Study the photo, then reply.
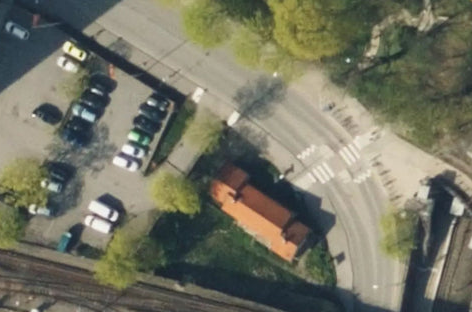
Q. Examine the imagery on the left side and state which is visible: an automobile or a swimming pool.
automobile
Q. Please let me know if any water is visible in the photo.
No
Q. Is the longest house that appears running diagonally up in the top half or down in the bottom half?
bottom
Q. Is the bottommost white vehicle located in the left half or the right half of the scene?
left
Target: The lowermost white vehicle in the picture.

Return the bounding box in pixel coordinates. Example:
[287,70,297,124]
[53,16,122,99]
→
[83,215,111,235]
